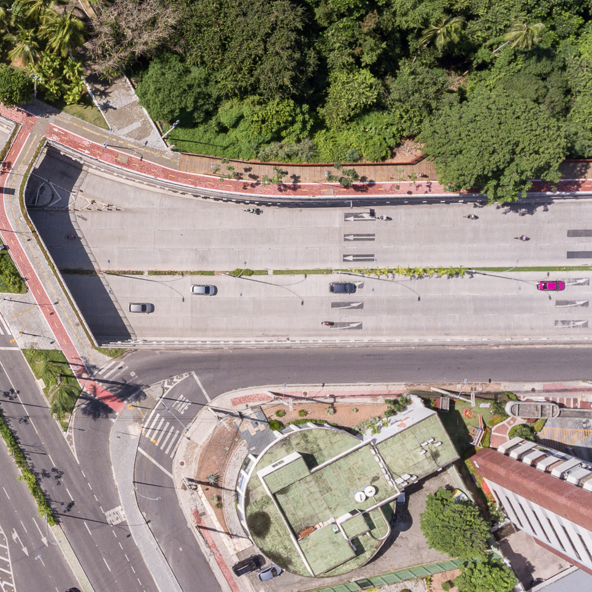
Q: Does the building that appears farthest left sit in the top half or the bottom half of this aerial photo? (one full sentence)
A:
Seen from above, the building that appears farthest left lies in the bottom half of the view.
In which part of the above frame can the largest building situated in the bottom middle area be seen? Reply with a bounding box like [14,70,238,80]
[230,417,403,580]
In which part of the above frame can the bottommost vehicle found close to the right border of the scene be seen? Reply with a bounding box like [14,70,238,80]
[536,279,563,292]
